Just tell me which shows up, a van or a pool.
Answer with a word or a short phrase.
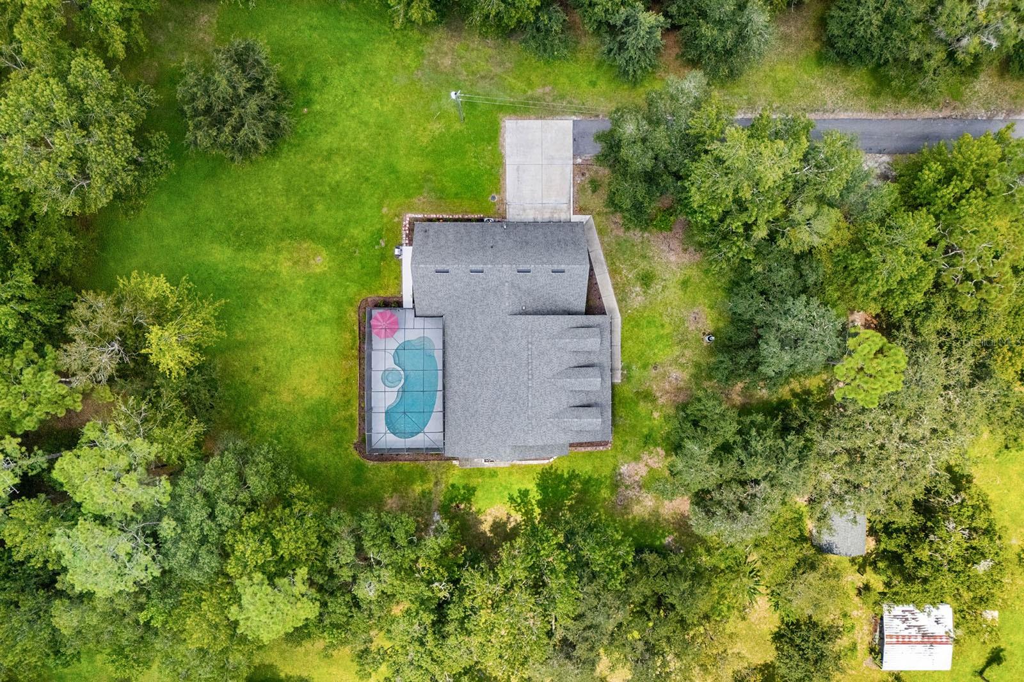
pool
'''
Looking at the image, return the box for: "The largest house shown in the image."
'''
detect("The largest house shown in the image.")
[411,221,613,460]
